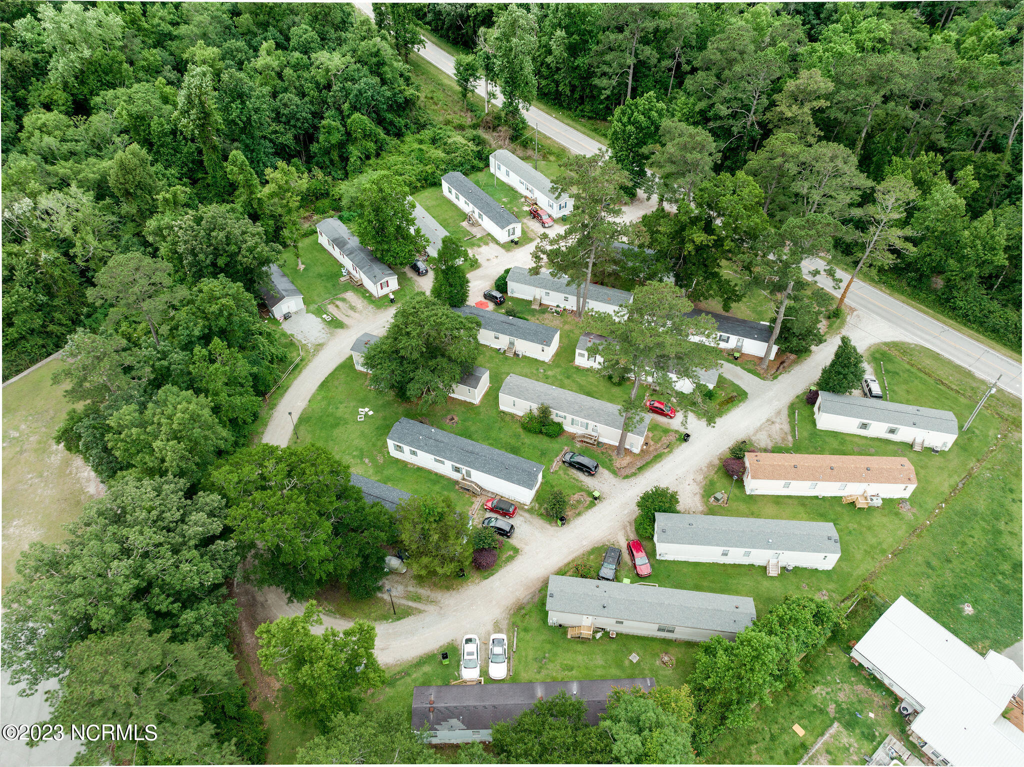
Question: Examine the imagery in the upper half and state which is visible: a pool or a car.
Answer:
car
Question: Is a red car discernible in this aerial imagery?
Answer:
Yes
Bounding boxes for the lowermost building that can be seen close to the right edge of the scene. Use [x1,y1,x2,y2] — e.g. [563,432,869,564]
[845,594,1024,767]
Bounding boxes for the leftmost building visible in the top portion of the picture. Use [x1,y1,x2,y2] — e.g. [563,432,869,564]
[260,267,306,319]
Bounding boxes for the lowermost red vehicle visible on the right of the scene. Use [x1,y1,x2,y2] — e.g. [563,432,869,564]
[627,540,650,576]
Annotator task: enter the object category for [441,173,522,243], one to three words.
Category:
house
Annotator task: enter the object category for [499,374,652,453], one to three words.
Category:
house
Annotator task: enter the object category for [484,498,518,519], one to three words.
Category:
car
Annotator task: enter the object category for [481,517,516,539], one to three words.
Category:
car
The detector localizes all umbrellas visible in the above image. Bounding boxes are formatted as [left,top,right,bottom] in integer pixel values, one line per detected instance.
[474,299,491,312]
